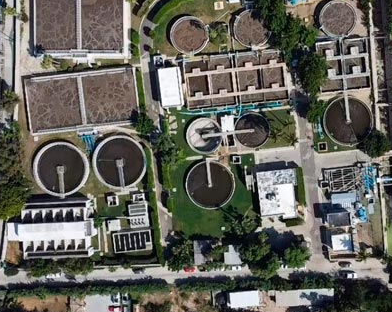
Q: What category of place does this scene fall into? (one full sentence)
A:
What you see here is an industrial area.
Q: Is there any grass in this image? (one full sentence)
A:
Yes, grass shows up in the scene.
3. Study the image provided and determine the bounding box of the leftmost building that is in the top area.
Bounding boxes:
[157,67,185,107]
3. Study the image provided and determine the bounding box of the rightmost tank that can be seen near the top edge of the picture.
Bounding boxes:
[317,0,357,39]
